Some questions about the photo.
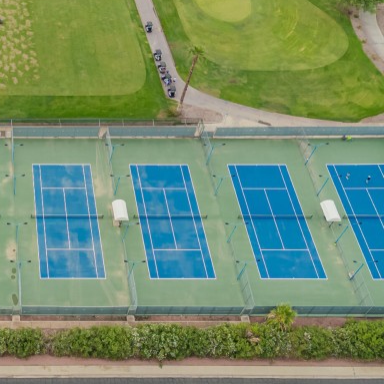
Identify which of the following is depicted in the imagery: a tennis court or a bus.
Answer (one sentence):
There is a tennis court in the scene.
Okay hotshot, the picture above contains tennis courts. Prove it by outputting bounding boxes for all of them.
[130,165,216,279]
[30,165,106,279]
[327,165,384,278]
[229,165,327,279]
